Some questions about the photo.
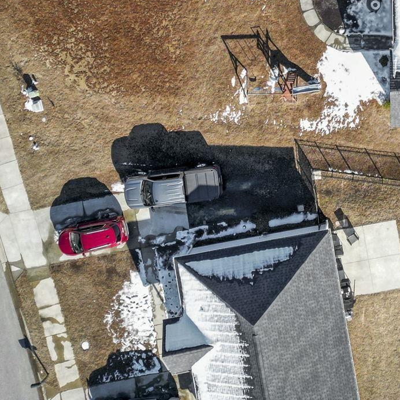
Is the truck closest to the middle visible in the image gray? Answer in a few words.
Yes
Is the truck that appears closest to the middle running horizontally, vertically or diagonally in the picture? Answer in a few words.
horizontally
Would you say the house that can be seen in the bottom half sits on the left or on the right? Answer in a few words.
right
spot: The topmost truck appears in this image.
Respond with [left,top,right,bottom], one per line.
[121,162,225,210]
